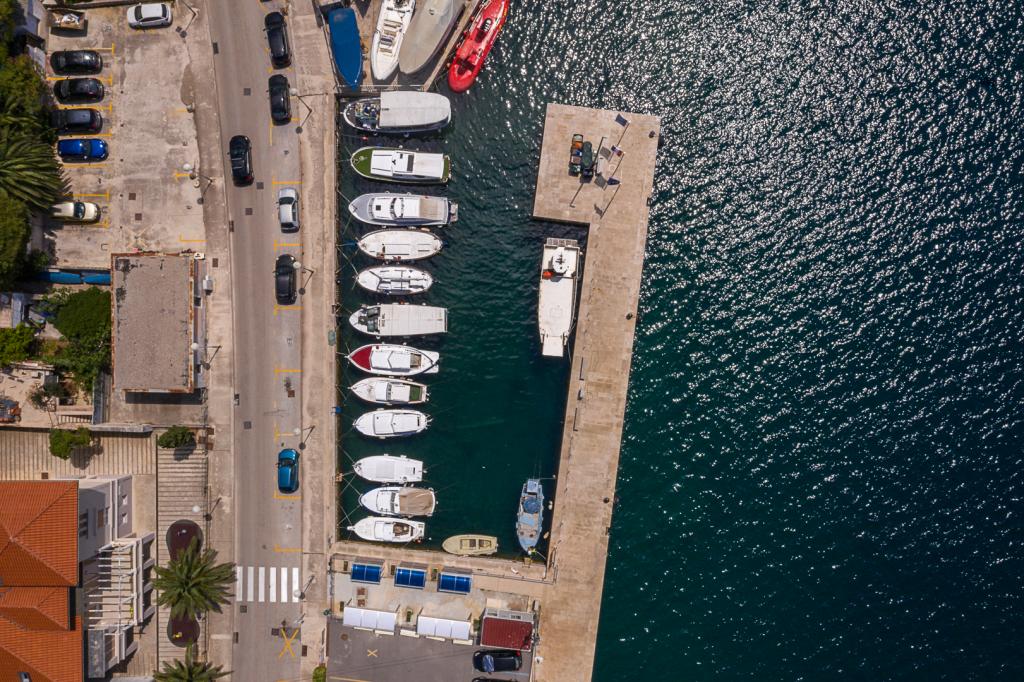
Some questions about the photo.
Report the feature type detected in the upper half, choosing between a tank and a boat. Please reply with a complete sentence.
There is a boat in the upper half.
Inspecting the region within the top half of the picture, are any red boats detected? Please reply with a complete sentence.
Yes, looking within the top half of the picture, one can make out a red boat.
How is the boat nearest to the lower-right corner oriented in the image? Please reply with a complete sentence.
In this picture, the boat nearest to the lower-right corner lies vertically.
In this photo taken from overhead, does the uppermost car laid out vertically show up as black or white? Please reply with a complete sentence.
In this view, the uppermost car laid out vertically is black.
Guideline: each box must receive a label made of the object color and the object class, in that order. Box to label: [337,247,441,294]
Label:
white boat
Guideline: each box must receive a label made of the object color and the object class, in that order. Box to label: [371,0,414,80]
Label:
white boat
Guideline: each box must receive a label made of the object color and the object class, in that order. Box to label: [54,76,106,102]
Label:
black car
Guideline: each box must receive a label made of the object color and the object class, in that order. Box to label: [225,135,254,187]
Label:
black car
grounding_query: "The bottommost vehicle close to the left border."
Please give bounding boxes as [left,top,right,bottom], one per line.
[0,398,25,422]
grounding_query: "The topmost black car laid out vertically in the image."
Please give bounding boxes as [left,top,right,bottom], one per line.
[263,12,292,70]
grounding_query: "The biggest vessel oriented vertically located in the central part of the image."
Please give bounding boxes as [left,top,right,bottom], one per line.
[539,237,581,358]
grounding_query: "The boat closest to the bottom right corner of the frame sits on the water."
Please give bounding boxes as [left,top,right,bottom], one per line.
[516,461,548,557]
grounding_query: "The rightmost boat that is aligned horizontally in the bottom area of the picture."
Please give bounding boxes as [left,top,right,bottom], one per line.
[442,535,501,555]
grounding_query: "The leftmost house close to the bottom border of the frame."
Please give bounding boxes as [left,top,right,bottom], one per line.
[0,472,155,682]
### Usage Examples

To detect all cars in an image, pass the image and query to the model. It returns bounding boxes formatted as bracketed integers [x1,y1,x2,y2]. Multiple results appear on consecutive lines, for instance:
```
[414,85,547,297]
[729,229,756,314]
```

[265,74,292,125]
[54,76,106,102]
[263,12,292,70]
[126,0,174,28]
[49,199,101,223]
[225,135,254,187]
[50,107,104,134]
[275,449,300,493]
[274,187,300,233]
[57,136,110,161]
[472,648,522,677]
[50,47,104,75]
[272,255,297,305]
